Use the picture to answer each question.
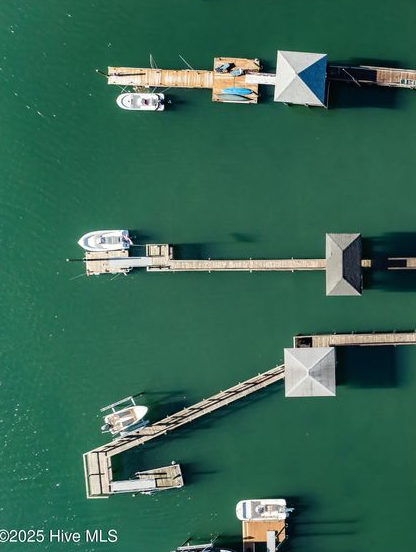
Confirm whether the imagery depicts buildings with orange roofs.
No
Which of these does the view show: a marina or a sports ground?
marina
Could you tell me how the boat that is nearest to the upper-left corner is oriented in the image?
from left to right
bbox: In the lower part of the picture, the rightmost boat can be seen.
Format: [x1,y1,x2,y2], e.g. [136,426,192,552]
[237,498,302,520]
